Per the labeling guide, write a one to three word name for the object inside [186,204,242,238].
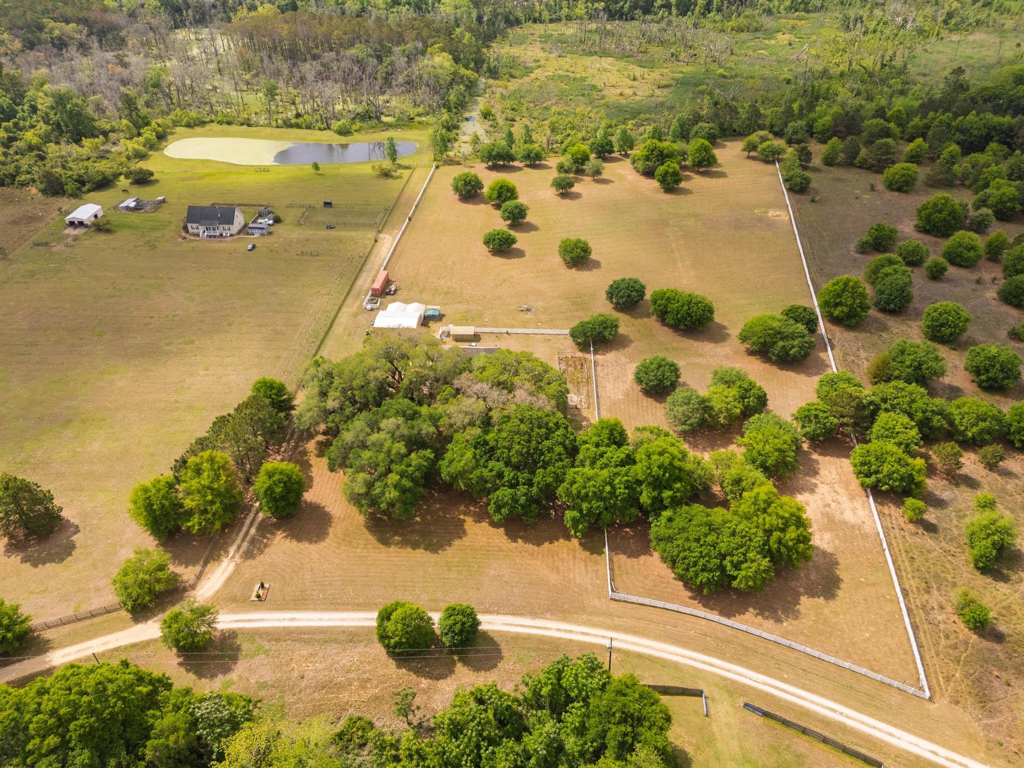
house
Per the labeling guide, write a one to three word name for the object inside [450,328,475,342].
shed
